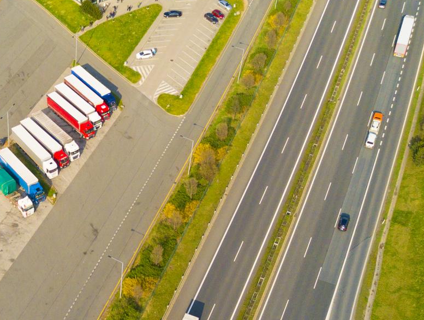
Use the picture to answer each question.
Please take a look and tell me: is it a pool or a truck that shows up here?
truck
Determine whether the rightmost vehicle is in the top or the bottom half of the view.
top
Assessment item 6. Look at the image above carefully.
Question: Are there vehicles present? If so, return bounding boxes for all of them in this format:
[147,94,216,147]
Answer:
[47,92,96,142]
[205,13,218,23]
[64,76,112,124]
[54,83,103,131]
[32,111,81,162]
[0,148,46,205]
[217,0,232,11]
[182,314,198,320]
[136,48,156,59]
[12,126,60,180]
[338,213,350,230]
[211,9,225,19]
[373,115,384,128]
[379,0,387,7]
[164,10,182,17]
[71,66,118,113]
[365,132,377,146]
[20,118,70,172]
[394,15,414,55]
[0,163,35,215]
